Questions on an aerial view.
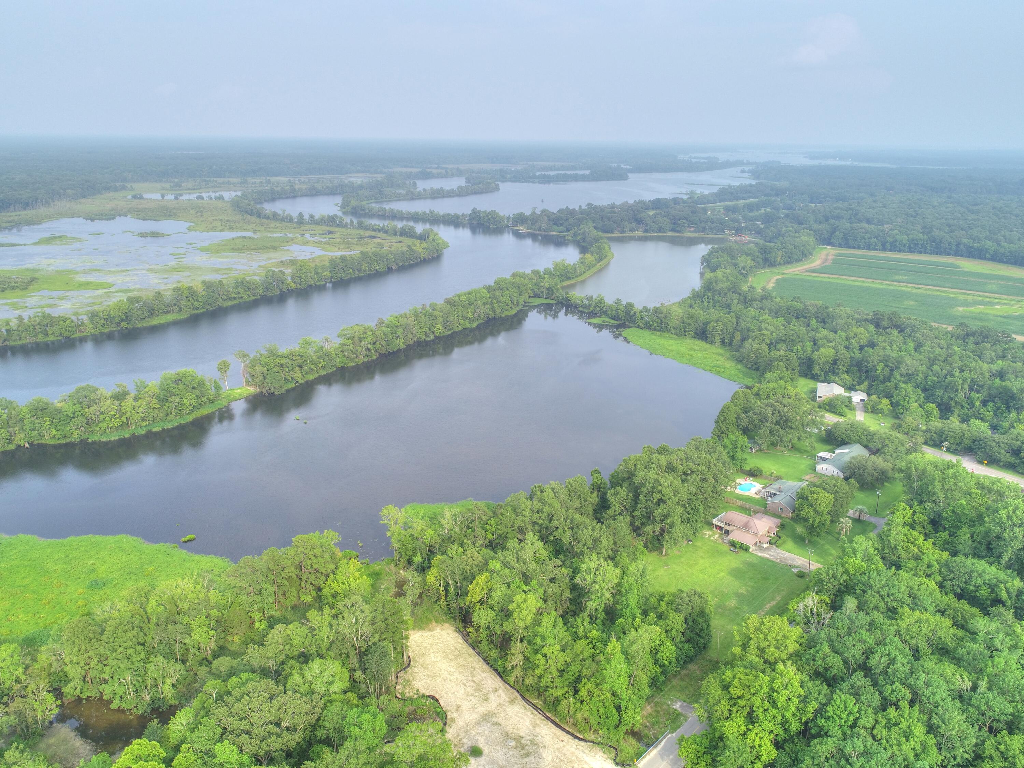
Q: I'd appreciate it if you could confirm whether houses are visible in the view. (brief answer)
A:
Yes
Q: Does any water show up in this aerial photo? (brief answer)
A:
Yes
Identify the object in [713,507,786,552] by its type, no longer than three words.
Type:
house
